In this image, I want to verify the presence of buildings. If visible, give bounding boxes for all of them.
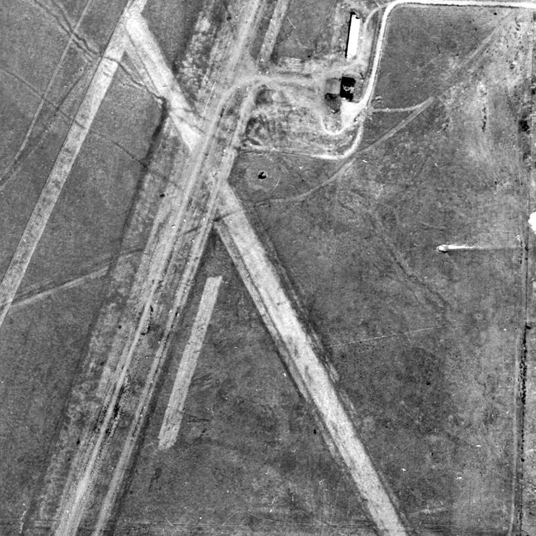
[340,78,355,101]
[326,79,340,94]
[347,13,361,57]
